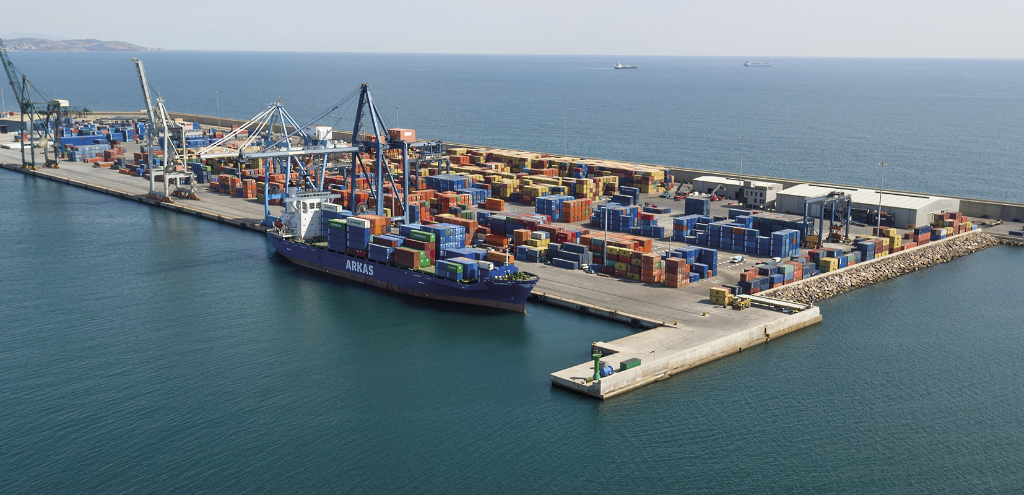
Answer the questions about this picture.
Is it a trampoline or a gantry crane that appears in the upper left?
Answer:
gantry crane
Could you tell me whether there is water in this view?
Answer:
Yes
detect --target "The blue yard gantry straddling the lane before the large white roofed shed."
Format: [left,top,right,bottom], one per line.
[802,191,855,247]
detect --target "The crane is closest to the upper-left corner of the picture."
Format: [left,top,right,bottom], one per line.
[0,39,93,170]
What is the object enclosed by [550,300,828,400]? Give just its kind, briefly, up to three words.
pier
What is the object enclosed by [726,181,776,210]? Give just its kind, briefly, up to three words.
building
